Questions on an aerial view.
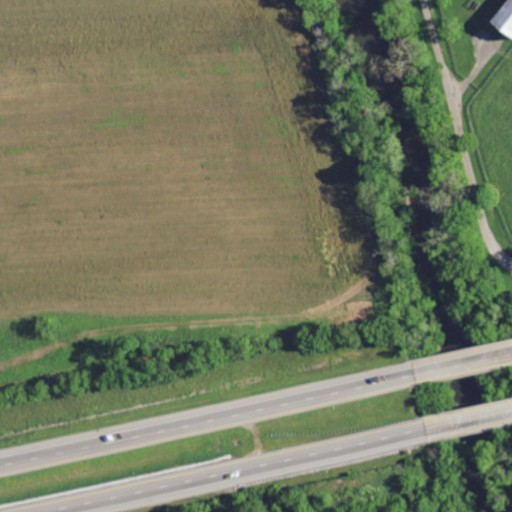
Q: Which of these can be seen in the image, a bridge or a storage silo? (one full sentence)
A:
This aerial view contains a bridge.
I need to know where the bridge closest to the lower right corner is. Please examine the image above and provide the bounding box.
[421,397,512,447]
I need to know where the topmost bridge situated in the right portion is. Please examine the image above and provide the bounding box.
[409,339,512,390]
